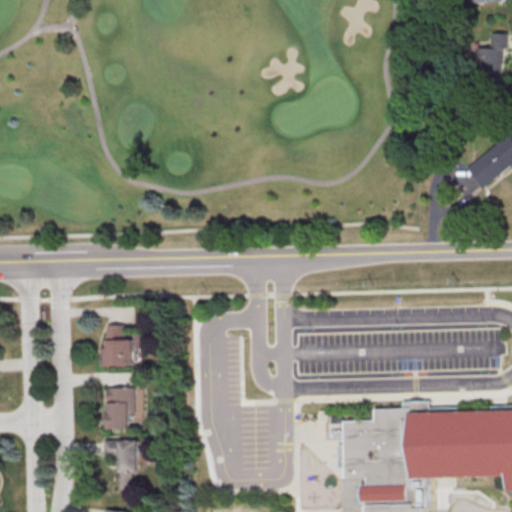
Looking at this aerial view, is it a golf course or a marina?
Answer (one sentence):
This looks like a golf course.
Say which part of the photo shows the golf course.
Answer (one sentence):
Look in the top portion of the view to spot the golf course.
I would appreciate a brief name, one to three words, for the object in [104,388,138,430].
house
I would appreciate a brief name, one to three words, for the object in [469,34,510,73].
house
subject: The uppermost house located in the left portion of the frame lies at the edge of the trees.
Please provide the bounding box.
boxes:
[102,325,142,366]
